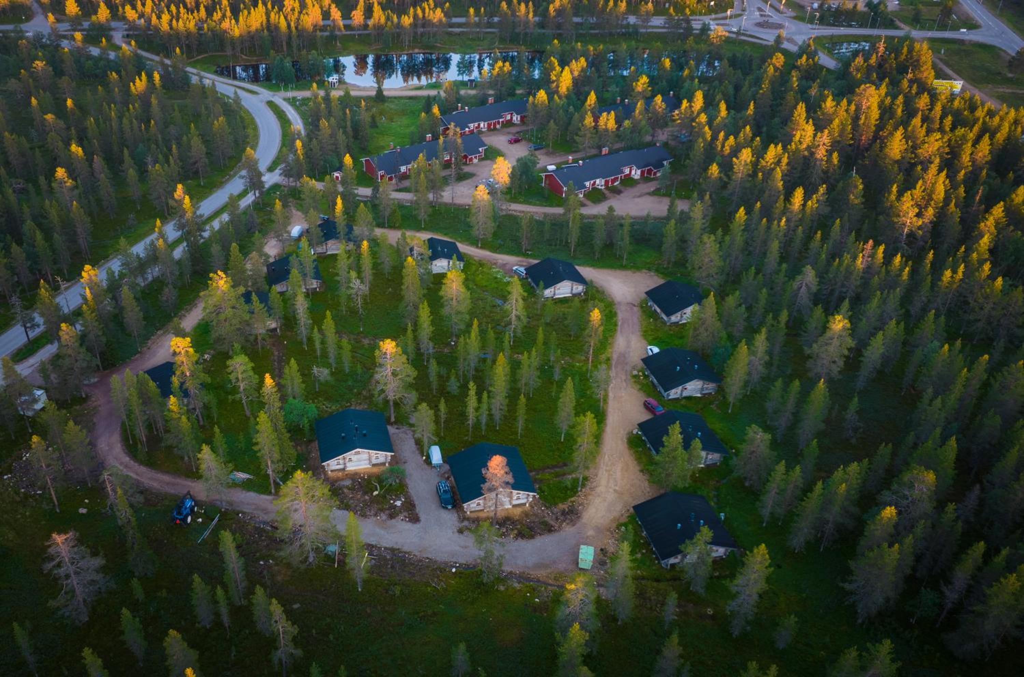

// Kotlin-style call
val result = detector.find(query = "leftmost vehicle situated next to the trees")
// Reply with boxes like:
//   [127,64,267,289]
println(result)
[168,489,202,524]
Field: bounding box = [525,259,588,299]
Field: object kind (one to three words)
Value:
building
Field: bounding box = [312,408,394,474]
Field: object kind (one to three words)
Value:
building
